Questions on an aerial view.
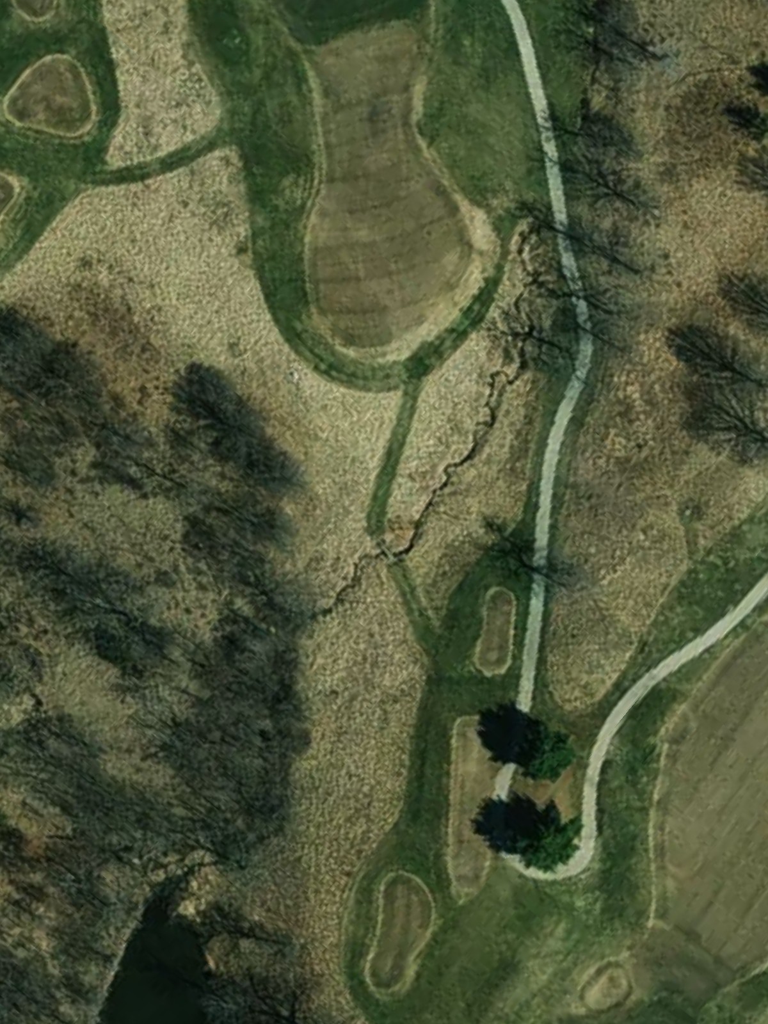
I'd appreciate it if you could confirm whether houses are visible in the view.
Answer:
No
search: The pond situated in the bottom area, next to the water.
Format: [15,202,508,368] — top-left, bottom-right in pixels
[95,860,210,1024]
